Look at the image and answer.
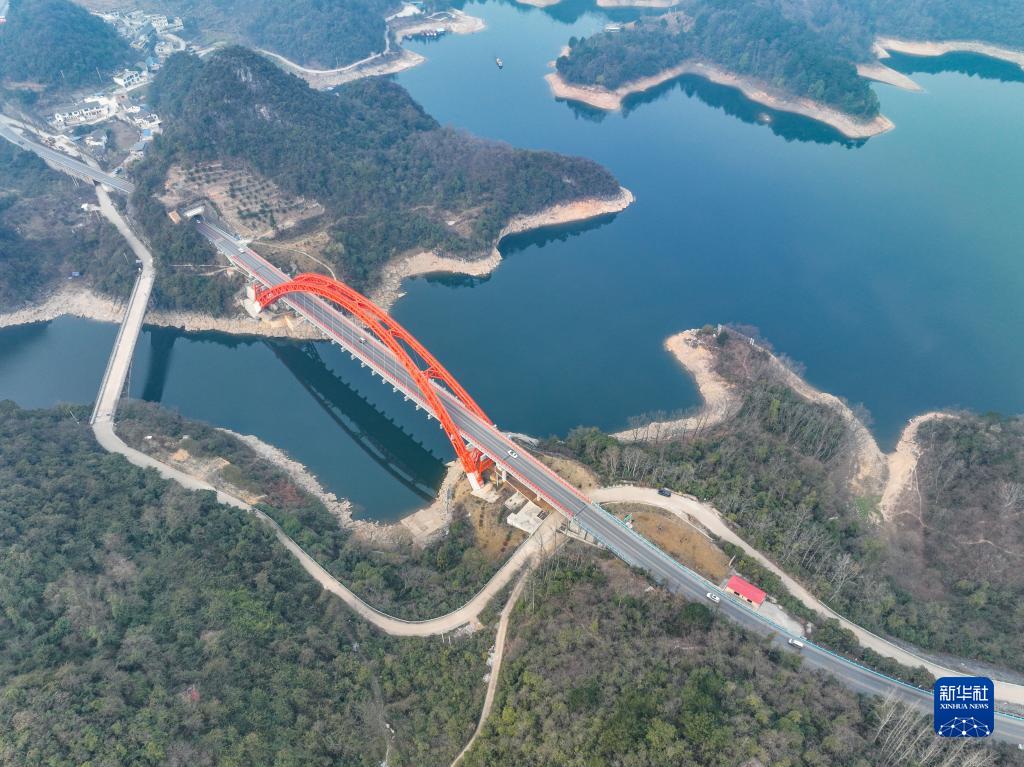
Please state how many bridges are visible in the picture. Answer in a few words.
2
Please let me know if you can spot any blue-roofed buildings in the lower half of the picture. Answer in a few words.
No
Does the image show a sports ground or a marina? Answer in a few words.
marina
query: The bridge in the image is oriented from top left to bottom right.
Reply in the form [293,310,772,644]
[204,226,676,583]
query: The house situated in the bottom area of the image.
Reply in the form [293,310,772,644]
[725,572,769,609]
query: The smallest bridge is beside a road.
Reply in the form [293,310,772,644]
[90,285,151,422]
